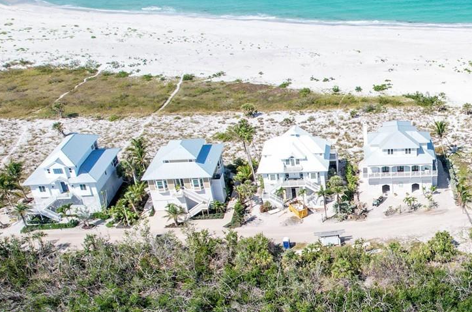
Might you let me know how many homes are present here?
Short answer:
four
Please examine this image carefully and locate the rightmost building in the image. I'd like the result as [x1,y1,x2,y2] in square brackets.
[362,122,441,194]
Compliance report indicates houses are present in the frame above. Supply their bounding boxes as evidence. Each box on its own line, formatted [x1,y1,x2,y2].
[141,136,235,222]
[362,122,441,194]
[22,126,123,228]
[255,126,345,218]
